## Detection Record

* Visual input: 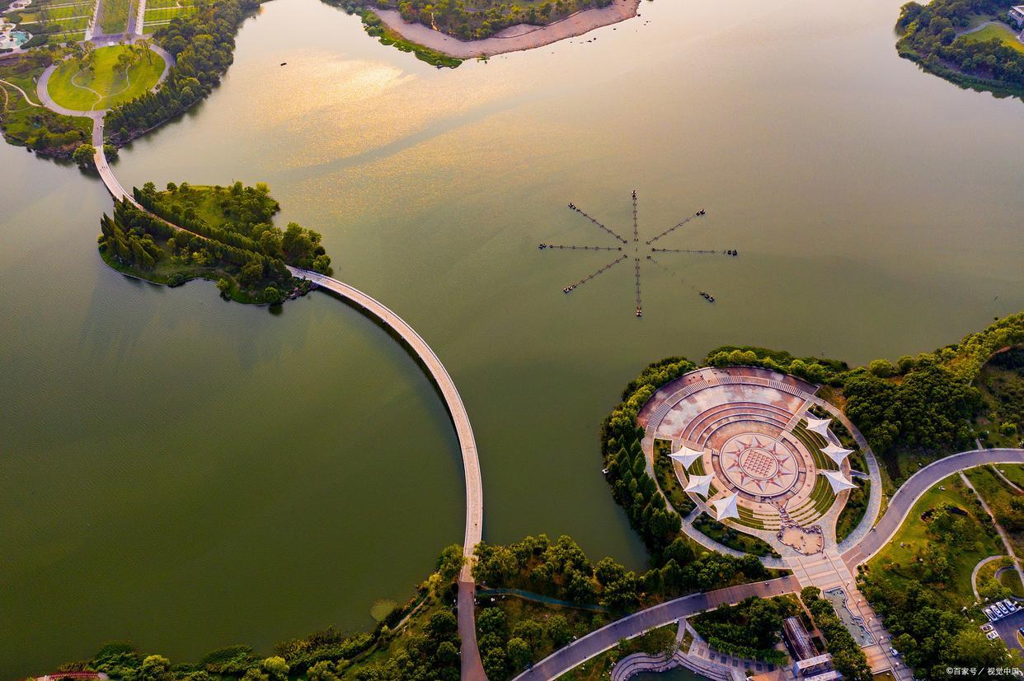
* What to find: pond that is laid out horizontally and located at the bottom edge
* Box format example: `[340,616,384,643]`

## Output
[611,653,736,681]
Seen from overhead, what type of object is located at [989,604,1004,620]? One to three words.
car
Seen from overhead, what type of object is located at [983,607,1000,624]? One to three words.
car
